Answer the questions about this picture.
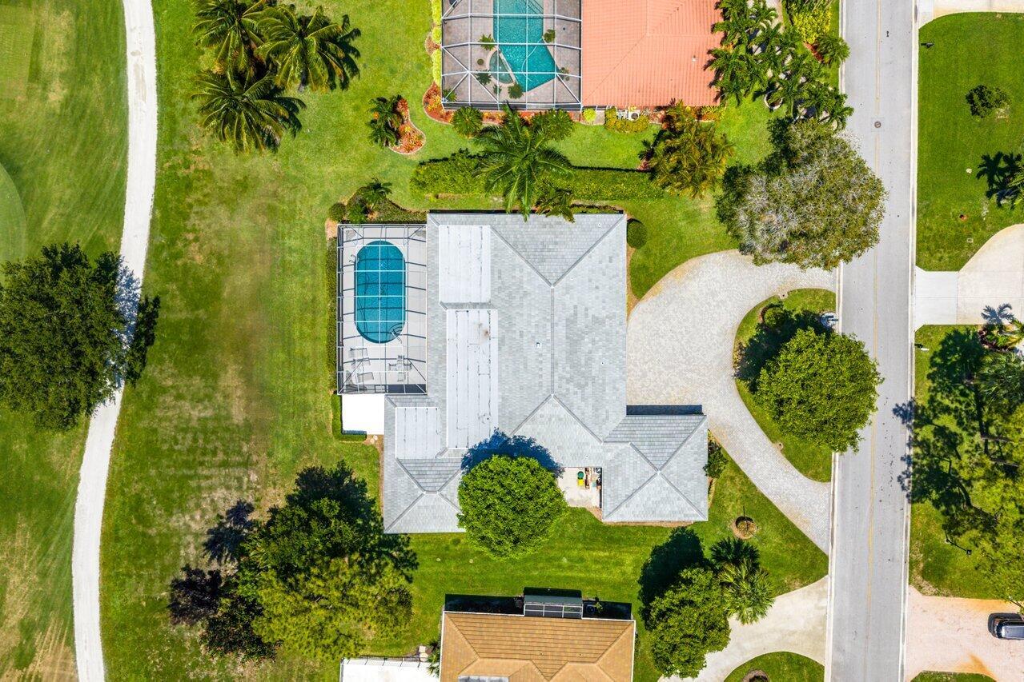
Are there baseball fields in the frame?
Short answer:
No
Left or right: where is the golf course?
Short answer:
left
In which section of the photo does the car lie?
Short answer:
bottom right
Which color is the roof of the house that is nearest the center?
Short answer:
white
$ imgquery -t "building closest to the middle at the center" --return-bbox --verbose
[383,211,709,534]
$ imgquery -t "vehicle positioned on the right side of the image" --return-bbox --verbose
[993,616,1024,640]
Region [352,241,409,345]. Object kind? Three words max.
swimming pool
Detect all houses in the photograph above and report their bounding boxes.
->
[383,211,709,534]
[582,0,728,108]
[438,609,635,682]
